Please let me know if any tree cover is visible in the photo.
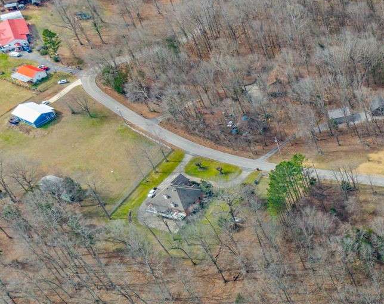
Yes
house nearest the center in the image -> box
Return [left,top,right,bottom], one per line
[145,170,215,222]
